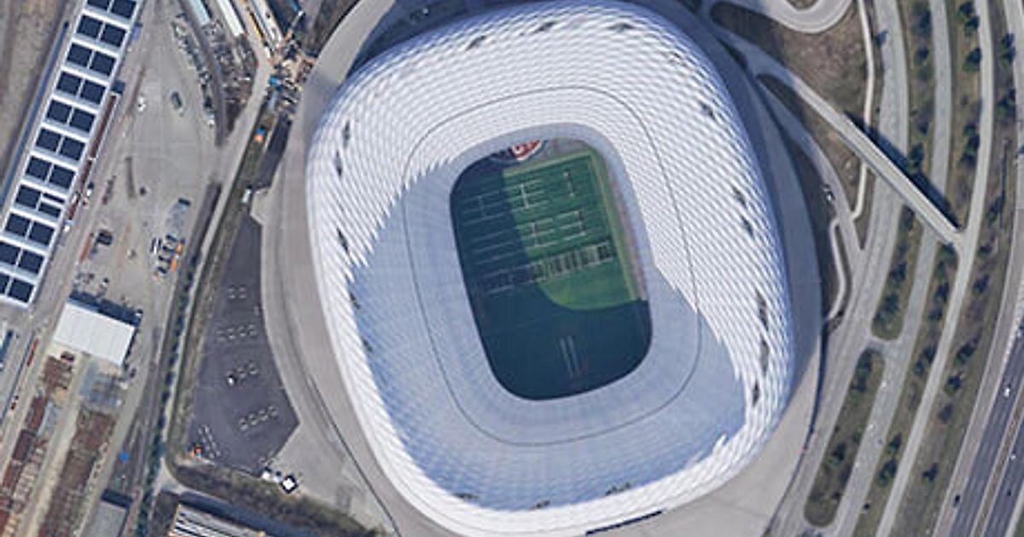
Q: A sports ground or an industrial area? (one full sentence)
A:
The area seen from above is a sports ground.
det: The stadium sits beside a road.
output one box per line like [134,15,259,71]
[304,0,798,537]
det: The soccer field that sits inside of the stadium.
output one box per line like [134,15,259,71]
[451,144,649,398]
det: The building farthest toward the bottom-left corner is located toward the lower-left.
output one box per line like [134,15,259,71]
[83,499,127,537]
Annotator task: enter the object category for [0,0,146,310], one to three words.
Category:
building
